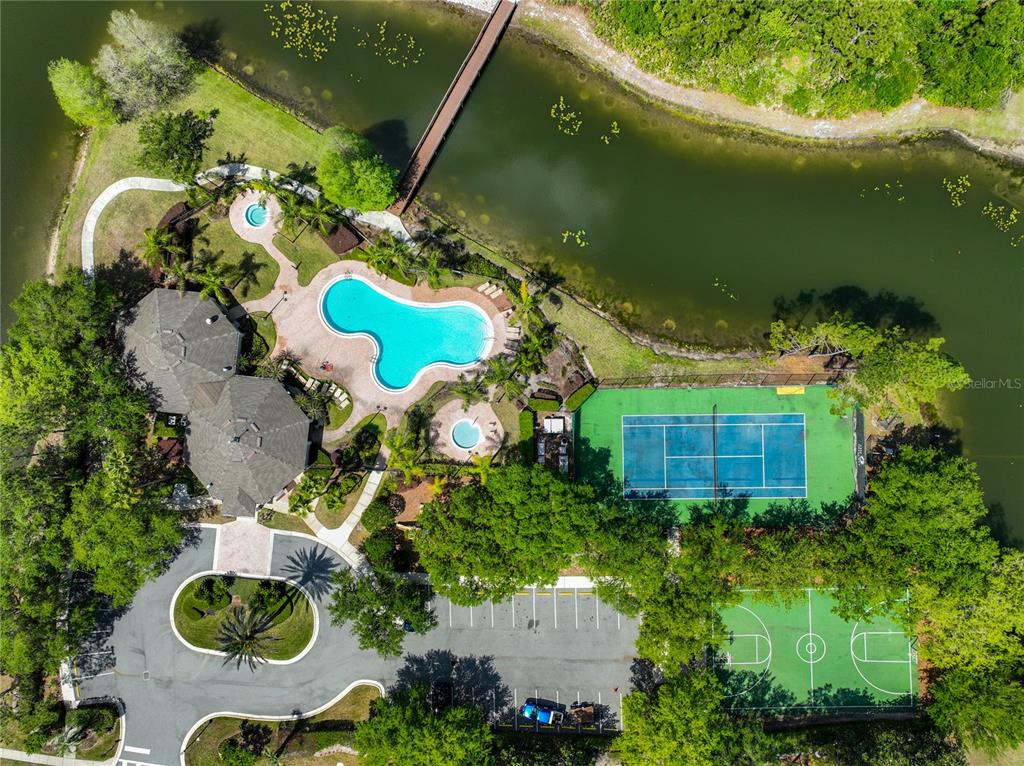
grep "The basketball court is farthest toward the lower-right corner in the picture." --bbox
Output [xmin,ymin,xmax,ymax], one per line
[704,580,919,715]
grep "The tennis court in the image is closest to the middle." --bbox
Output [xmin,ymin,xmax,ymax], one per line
[575,385,858,527]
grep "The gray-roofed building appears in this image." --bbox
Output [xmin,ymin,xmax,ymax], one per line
[110,287,311,522]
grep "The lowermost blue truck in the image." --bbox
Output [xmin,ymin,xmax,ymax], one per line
[517,703,567,729]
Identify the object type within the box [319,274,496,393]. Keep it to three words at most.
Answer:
swimming pool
